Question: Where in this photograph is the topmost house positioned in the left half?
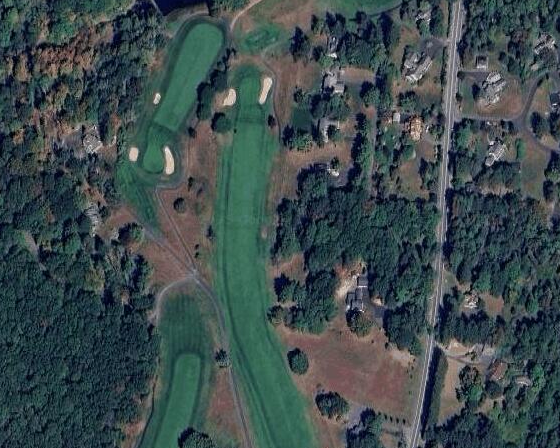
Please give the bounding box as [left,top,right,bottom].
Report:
[80,130,104,153]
